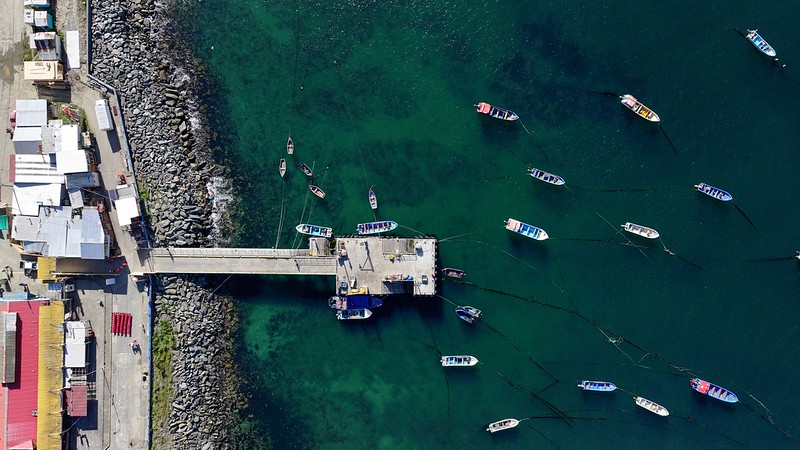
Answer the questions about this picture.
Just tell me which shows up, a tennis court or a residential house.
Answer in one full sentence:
Visible in the photo is a residential house.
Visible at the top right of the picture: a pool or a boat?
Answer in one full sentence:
The feature located at the top right of the picture is a boat.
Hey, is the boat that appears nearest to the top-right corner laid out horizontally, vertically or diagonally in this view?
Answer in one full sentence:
I'd say the boat that appears nearest to the top-right corner is aligned diagonally in the picture.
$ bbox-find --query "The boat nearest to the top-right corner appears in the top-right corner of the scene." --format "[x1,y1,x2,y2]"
[745,30,777,56]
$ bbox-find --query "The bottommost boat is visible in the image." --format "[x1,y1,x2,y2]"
[483,418,520,434]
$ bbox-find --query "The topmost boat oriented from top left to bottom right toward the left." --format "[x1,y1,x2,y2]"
[301,163,314,177]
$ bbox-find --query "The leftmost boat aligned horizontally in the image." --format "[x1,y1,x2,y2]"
[295,223,334,238]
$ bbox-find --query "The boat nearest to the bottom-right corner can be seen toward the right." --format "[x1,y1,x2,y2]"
[686,376,739,403]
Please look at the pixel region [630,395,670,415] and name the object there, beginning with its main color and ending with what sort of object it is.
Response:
white boat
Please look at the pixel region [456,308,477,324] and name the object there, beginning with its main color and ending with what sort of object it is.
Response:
blue boat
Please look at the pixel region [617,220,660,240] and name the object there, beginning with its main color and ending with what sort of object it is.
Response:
white boat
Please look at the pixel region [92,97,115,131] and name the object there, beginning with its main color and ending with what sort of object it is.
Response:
white truck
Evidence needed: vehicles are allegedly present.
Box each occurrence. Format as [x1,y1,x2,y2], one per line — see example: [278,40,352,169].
[92,97,115,131]
[5,106,16,126]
